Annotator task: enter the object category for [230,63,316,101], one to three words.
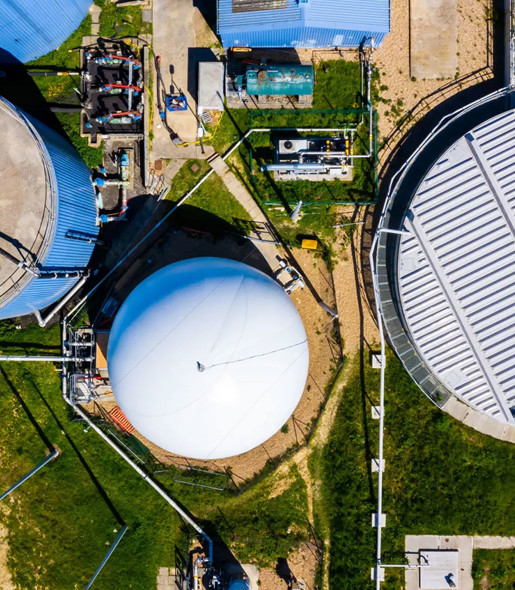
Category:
storage tank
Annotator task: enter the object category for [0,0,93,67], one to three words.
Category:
storage tank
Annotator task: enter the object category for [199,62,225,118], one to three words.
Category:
shed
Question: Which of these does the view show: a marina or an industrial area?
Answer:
industrial area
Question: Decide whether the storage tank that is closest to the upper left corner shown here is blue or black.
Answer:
blue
